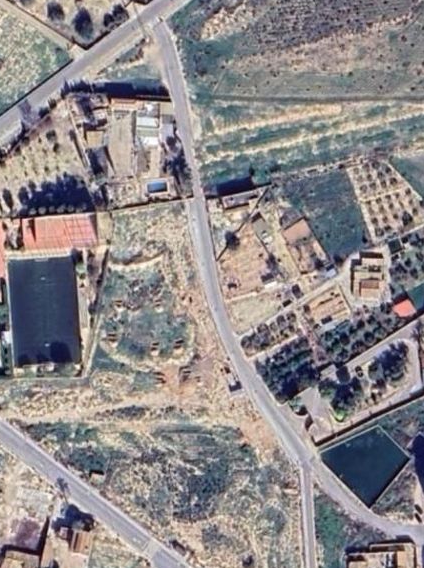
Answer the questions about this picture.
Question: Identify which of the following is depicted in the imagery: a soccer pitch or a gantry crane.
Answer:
soccer pitch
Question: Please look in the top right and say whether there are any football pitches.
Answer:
No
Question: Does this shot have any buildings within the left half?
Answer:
Yes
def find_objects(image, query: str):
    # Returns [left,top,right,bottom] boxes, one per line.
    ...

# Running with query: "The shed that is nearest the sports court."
[88,146,115,175]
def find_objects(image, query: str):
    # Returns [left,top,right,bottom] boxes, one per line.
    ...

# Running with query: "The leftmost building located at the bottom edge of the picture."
[1,552,40,568]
